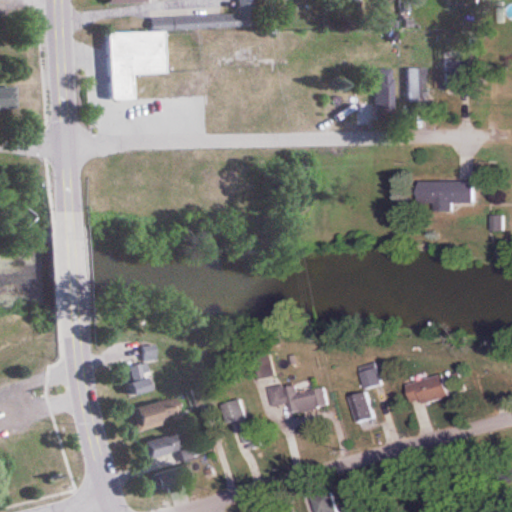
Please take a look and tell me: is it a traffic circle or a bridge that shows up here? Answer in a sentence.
This aerial view contains a bridge.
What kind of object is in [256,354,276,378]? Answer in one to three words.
building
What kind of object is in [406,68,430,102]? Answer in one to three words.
house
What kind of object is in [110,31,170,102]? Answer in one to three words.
building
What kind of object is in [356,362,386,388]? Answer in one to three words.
house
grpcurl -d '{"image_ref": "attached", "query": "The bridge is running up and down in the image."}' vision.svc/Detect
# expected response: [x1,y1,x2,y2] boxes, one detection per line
[51,211,96,317]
